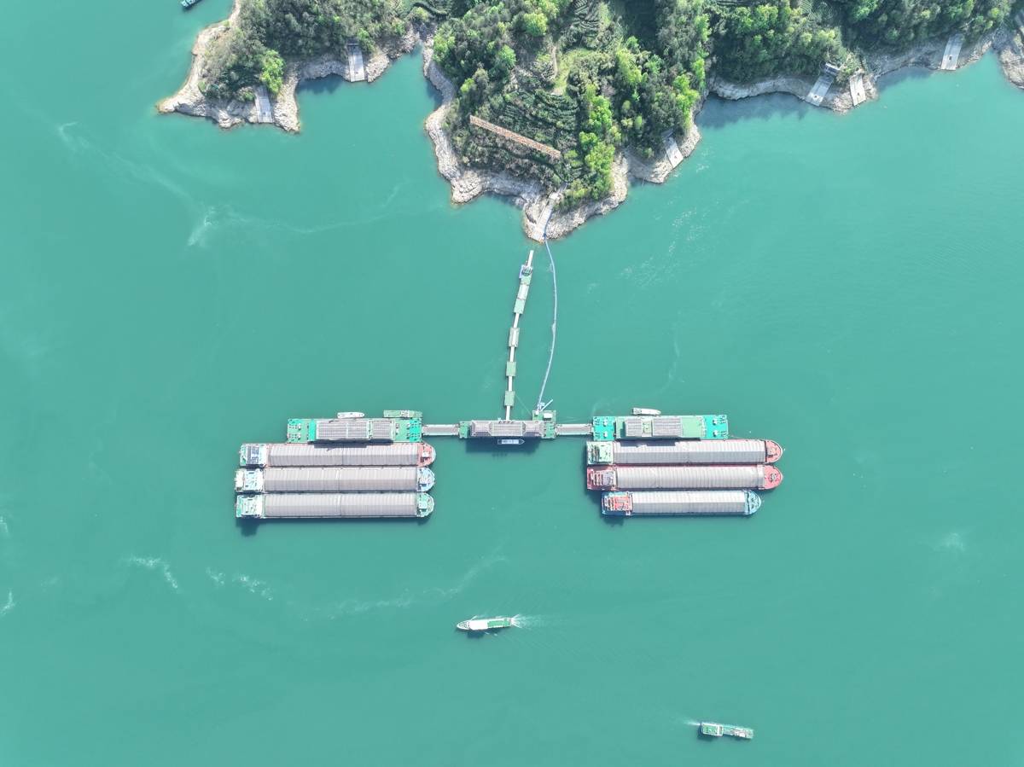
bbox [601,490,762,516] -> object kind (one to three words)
ship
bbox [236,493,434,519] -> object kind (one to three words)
ship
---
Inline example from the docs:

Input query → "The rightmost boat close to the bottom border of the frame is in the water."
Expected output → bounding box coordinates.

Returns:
[700,722,754,739]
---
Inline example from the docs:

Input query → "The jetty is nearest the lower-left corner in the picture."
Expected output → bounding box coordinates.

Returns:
[287,418,422,443]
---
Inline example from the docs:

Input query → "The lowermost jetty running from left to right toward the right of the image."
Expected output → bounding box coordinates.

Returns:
[593,415,729,441]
